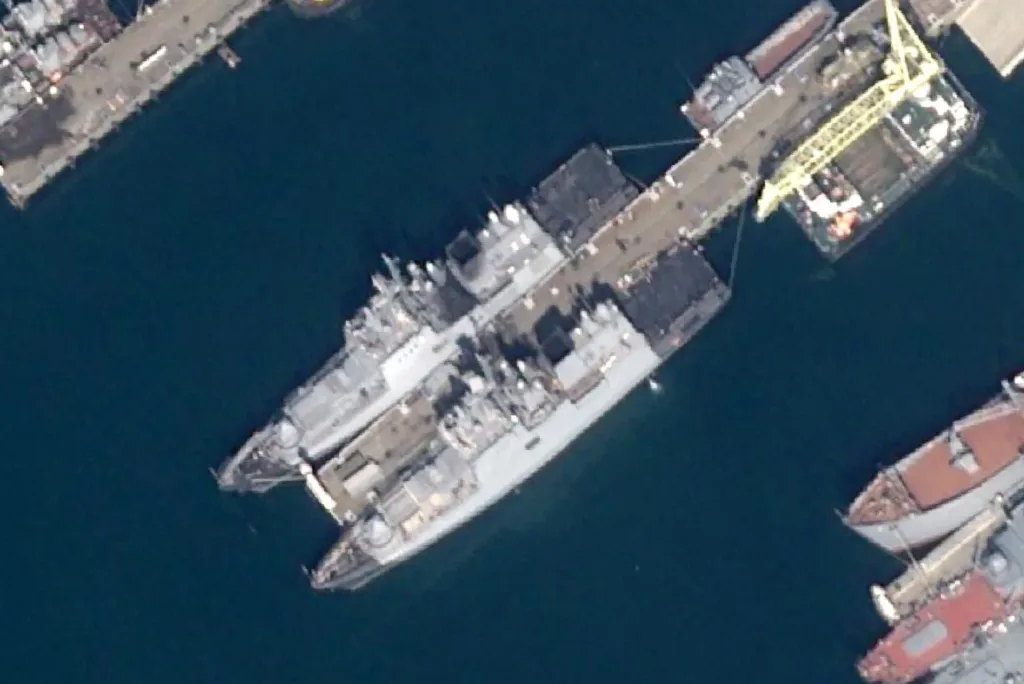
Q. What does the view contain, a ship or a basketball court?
ship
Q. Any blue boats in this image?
No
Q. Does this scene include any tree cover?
No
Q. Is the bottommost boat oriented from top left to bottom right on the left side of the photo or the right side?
right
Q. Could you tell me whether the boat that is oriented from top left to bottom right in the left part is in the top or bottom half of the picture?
bottom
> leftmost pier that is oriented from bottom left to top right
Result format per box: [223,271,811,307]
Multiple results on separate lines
[0,0,283,216]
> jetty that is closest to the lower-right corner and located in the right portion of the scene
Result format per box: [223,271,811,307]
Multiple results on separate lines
[885,480,1024,612]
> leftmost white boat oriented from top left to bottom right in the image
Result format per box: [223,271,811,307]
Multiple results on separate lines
[302,470,348,523]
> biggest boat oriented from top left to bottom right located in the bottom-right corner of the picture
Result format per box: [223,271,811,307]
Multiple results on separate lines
[869,586,902,625]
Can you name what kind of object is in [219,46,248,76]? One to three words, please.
pier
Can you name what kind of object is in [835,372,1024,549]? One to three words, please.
ship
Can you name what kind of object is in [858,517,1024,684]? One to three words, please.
ship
